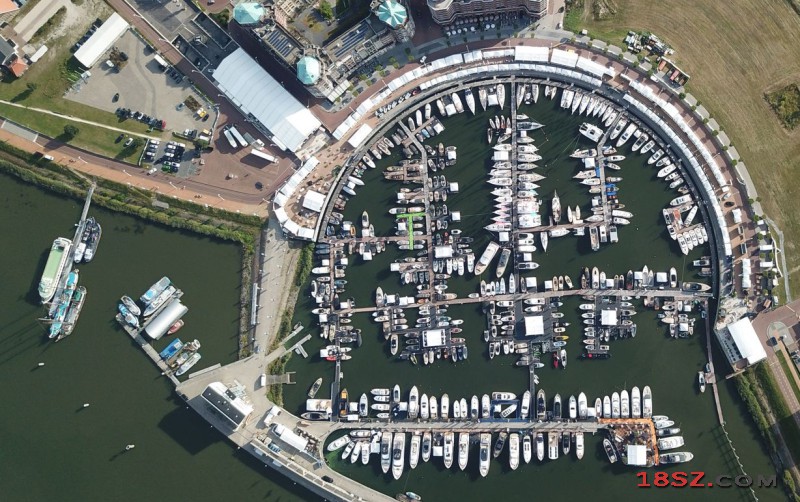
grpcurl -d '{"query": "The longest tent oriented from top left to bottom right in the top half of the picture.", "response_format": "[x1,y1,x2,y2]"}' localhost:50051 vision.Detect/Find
[212,48,324,158]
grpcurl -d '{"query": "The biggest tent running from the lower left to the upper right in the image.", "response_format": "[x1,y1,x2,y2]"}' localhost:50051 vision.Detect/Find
[74,12,132,69]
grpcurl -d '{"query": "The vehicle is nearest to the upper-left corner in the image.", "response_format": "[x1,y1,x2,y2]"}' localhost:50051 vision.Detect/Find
[29,45,49,62]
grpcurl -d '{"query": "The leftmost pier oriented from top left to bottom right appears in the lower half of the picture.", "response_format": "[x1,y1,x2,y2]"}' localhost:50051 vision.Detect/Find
[115,313,181,387]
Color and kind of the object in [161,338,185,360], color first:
blue ship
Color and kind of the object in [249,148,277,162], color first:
white vehicle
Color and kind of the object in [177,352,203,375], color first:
white boat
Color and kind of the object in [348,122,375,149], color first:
white tent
